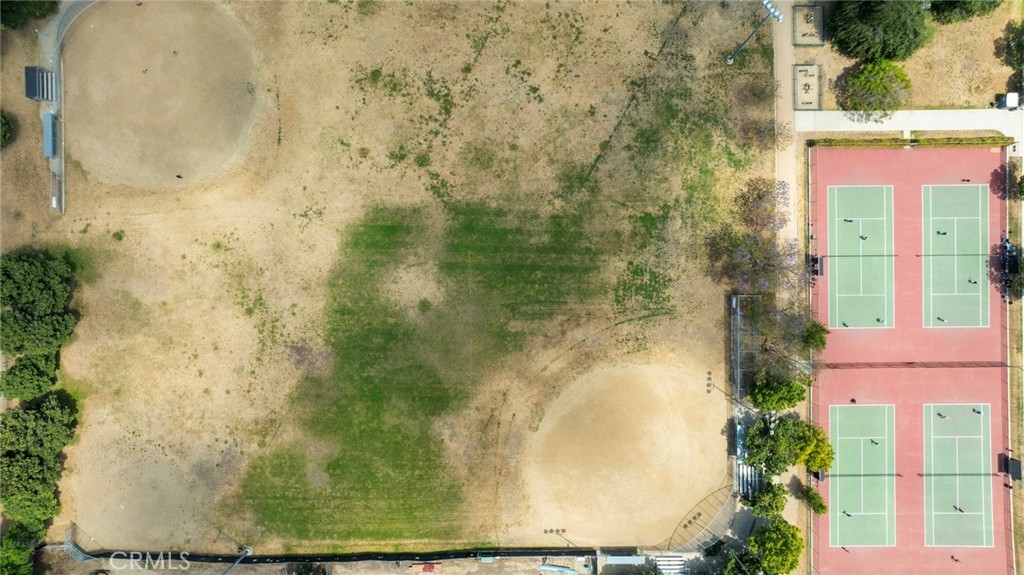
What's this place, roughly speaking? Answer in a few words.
sports ground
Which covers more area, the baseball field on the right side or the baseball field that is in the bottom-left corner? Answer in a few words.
the baseball field on the right side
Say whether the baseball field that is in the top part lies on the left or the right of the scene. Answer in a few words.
left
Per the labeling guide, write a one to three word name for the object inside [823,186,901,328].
tennis court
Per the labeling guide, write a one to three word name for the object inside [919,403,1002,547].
tennis court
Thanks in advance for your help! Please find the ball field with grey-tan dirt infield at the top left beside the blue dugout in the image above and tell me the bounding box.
[62,0,258,190]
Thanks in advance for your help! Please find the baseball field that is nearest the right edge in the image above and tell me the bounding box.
[522,360,733,551]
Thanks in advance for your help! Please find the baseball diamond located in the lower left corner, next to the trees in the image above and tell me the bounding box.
[76,440,222,554]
